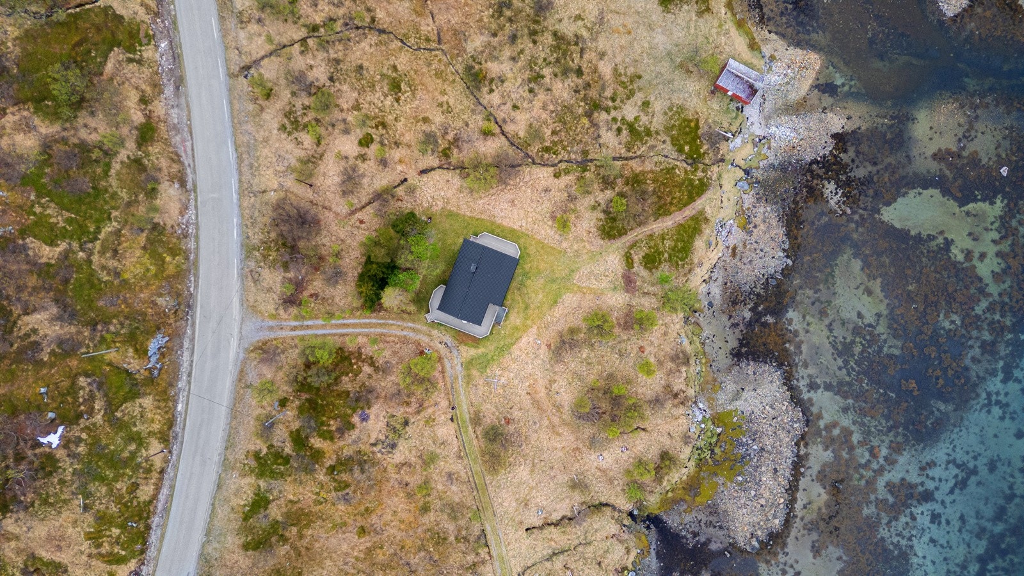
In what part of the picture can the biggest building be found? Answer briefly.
center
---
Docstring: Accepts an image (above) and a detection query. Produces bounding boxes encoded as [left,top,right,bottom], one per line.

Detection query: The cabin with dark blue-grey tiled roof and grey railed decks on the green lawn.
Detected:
[424,232,520,338]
